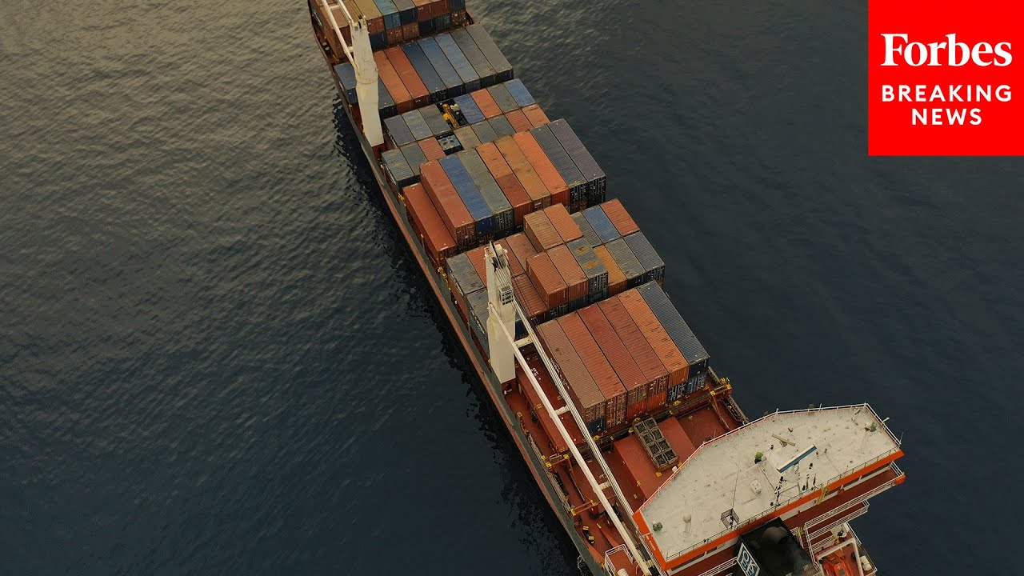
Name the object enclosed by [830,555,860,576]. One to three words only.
boat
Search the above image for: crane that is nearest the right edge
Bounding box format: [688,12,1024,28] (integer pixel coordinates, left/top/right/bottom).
[483,243,657,576]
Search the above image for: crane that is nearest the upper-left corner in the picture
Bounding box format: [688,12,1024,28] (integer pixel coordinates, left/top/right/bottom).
[319,0,389,150]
